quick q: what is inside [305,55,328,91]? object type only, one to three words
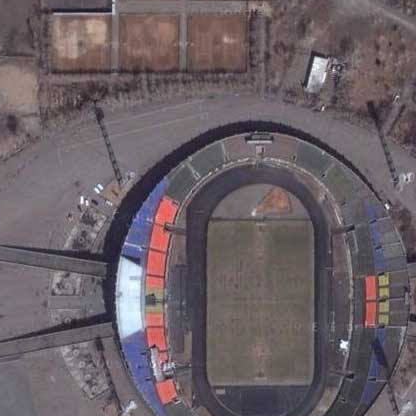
building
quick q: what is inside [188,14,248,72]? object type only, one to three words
tennis court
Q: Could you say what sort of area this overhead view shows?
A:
sports ground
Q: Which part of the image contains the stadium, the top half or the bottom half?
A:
bottom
